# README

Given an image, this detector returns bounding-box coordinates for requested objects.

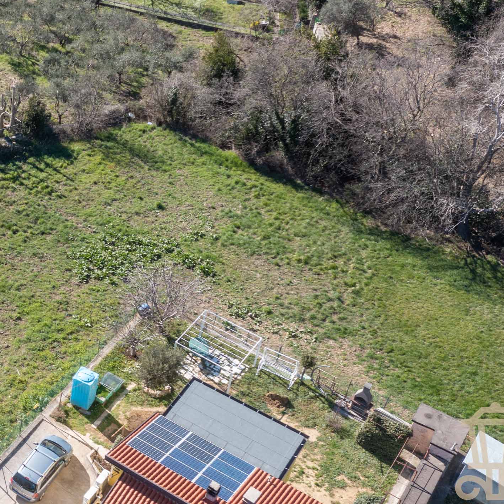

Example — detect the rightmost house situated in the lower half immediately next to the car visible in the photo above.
[99,378,335,504]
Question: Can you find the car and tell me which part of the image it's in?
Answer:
bottom left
